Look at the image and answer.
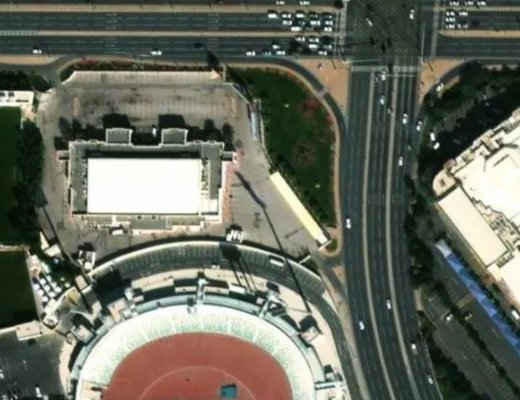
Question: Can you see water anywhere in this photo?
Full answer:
No, the picture contains no water.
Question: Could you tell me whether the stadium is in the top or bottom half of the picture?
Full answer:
It is in the bottom half that the stadium appears.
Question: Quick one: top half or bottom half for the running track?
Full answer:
The running track is in the bottom half of the image.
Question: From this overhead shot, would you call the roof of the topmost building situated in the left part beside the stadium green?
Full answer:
No, the roof of the topmost building situated in the left part beside the stadium is white.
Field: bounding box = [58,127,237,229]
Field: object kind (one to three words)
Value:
building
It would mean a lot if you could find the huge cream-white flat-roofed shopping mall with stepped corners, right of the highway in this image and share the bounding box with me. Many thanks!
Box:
[432,108,520,323]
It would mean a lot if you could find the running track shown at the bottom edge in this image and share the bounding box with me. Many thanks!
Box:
[103,332,292,400]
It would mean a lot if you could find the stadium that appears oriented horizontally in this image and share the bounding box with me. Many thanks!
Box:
[68,276,349,400]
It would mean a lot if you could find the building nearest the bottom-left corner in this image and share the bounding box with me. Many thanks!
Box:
[16,320,41,339]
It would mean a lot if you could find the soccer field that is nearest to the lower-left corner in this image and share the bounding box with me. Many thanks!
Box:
[0,251,37,329]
